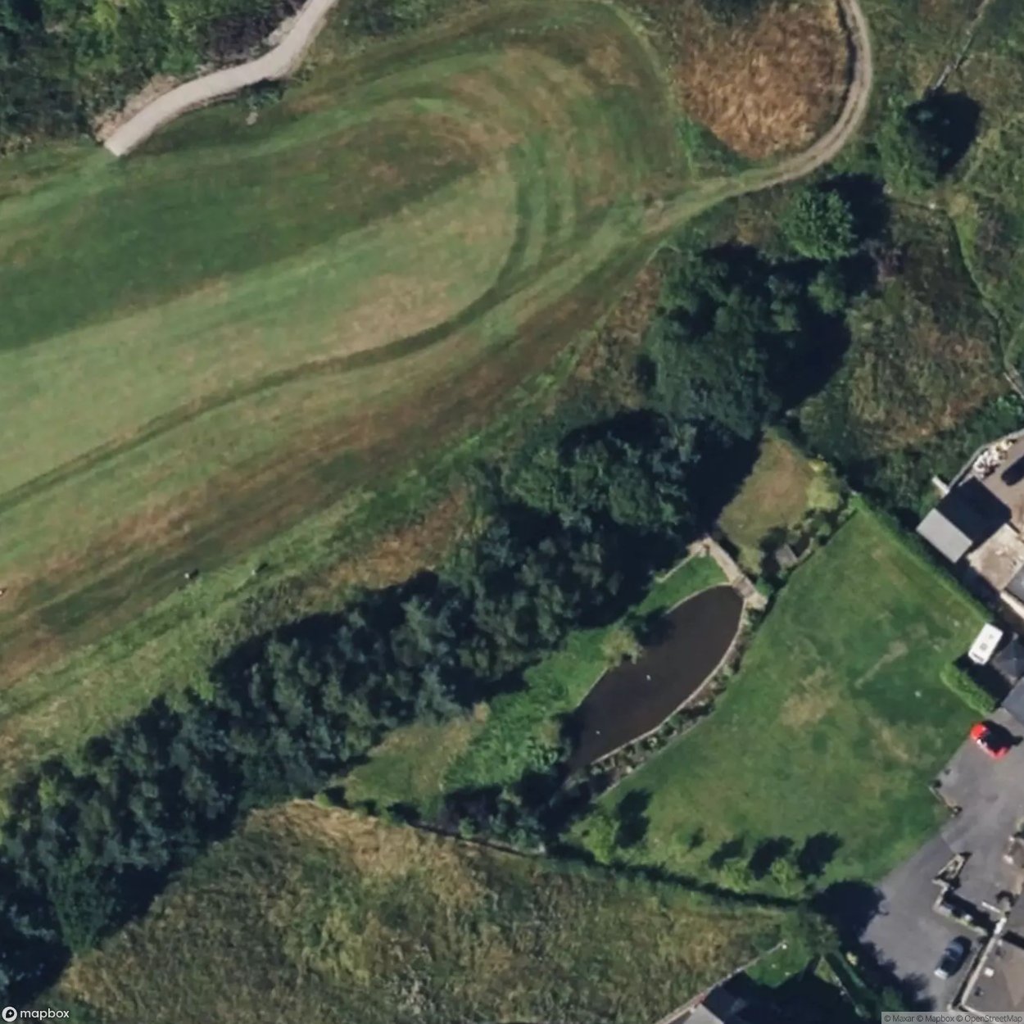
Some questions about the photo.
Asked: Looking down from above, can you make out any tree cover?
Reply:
Yes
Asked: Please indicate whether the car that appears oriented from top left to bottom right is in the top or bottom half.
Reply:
bottom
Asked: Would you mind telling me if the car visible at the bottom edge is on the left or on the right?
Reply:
right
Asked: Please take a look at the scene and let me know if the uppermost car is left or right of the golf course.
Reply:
right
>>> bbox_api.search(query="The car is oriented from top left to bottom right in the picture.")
[969,725,1010,762]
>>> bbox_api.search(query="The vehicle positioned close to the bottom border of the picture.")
[936,935,970,980]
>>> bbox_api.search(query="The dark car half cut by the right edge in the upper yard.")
[1002,451,1024,482]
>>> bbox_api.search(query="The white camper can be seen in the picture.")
[970,624,1004,665]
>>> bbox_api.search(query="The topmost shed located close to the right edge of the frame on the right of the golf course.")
[918,508,976,563]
